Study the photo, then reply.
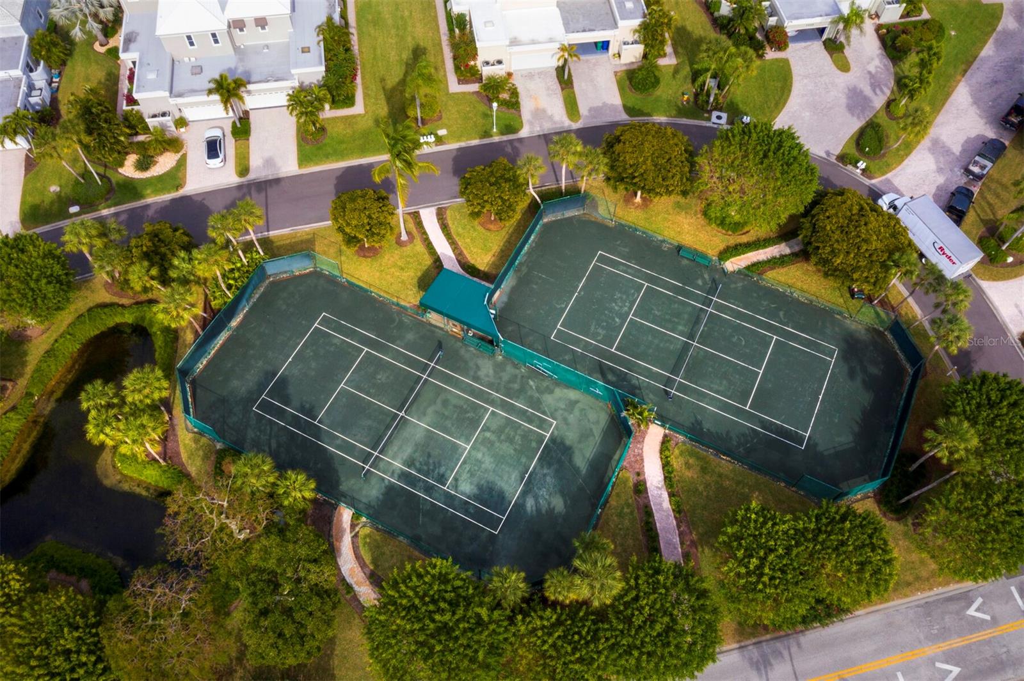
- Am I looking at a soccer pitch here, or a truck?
truck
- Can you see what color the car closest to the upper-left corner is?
white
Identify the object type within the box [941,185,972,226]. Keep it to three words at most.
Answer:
truck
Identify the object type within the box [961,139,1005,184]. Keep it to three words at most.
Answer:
truck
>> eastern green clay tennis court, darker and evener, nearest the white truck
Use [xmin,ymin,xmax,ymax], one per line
[491,215,909,489]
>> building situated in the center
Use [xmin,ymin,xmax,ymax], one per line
[420,268,503,348]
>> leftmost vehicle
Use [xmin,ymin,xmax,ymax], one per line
[201,130,226,169]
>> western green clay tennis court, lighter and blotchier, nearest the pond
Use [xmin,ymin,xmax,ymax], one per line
[192,272,624,585]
